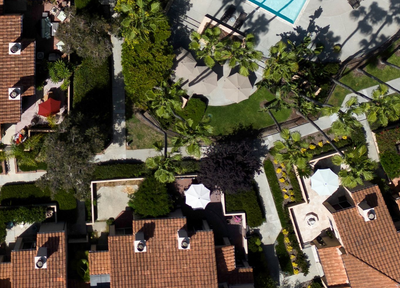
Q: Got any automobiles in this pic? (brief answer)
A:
No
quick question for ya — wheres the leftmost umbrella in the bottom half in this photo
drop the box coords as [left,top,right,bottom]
[187,185,211,209]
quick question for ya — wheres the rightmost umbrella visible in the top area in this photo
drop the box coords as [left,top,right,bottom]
[223,73,253,102]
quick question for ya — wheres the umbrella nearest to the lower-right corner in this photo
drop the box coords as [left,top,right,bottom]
[311,167,339,195]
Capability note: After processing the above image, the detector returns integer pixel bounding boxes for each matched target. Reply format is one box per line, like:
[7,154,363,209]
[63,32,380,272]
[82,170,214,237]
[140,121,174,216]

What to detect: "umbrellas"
[188,66,217,95]
[187,185,211,209]
[170,49,197,75]
[311,167,339,195]
[42,95,59,116]
[223,73,253,102]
